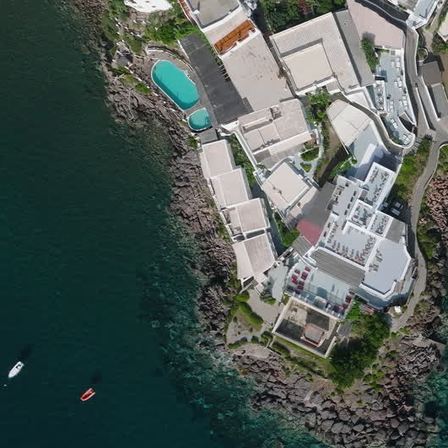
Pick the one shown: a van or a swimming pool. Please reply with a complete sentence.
This aerial view contains a swimming pool.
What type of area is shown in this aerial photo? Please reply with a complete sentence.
It's a residential area.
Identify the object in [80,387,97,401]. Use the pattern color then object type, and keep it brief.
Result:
red boat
